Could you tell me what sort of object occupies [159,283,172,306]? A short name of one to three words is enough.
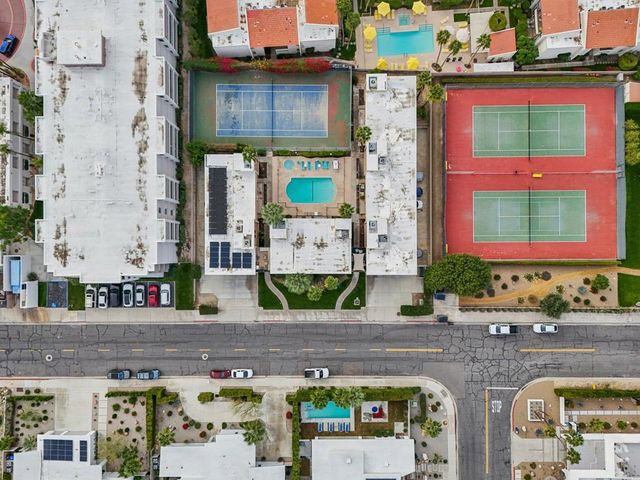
vehicle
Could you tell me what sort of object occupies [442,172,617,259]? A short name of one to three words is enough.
tennis court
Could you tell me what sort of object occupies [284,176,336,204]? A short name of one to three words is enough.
swimming pool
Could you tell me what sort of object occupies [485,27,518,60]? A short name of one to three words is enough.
building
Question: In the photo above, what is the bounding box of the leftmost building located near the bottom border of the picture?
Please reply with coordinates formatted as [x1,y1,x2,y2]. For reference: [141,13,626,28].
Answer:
[12,426,110,480]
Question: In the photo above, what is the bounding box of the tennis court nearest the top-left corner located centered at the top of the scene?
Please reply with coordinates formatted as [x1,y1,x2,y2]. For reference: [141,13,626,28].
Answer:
[192,69,353,151]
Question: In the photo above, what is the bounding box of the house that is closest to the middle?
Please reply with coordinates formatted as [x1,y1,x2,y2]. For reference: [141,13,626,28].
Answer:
[271,219,352,274]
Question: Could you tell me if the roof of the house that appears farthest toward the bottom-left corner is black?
No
